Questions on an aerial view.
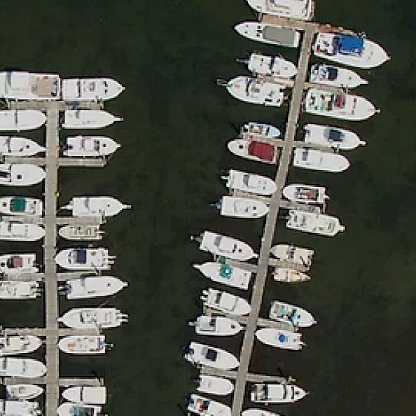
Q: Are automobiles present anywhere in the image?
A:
No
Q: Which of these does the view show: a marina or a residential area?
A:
marina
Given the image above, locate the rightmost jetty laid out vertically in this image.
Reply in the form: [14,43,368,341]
[198,13,360,416]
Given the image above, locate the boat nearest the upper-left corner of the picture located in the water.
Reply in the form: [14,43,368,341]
[0,70,60,100]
